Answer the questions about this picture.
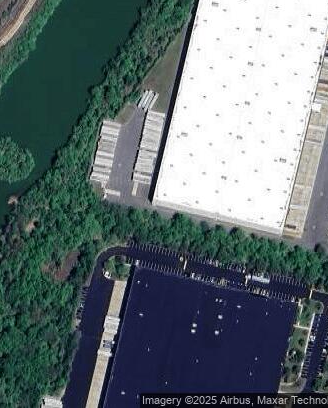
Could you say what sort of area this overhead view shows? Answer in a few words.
industrial area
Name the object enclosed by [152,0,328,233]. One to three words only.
warehouse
